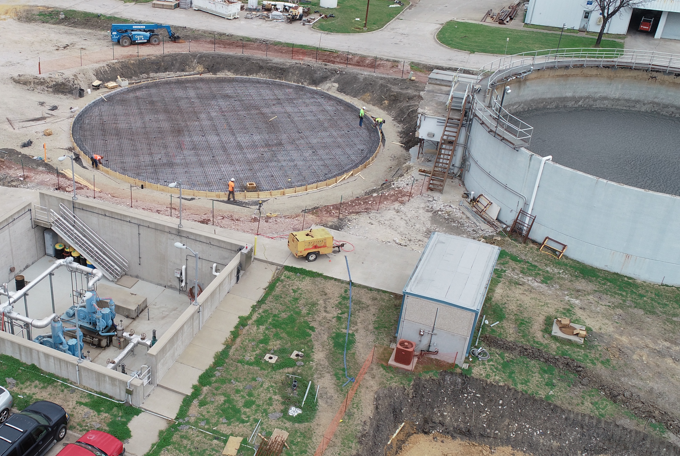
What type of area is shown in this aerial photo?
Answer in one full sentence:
This looks like an industrial area.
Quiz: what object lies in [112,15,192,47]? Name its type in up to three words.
work vehicle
